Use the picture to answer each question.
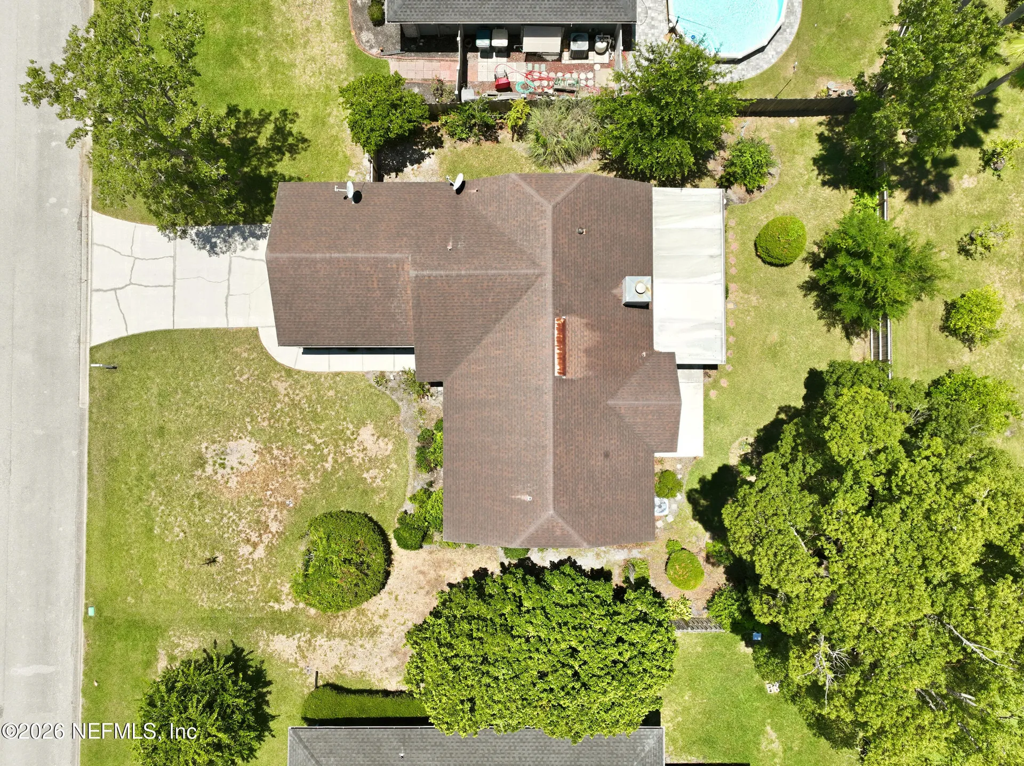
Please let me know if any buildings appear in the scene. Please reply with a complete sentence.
Yes, the picture does show a building.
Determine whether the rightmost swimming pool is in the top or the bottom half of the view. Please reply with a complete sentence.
The rightmost swimming pool sits in the top half of the picture.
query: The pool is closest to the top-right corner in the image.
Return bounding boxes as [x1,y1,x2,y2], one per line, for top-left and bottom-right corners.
[663,0,786,60]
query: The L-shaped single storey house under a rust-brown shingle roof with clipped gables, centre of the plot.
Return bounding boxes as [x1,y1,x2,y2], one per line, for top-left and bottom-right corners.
[264,171,683,550]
